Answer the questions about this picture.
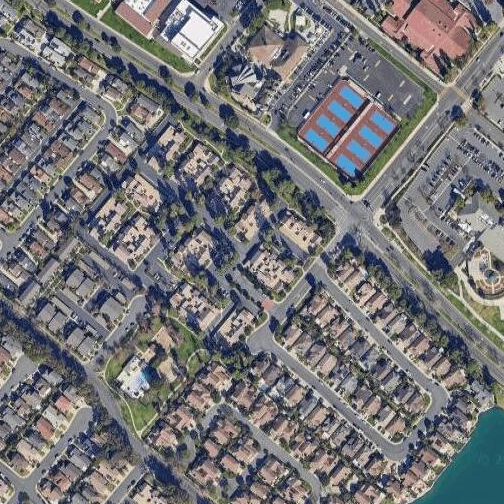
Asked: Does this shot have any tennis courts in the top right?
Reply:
Yes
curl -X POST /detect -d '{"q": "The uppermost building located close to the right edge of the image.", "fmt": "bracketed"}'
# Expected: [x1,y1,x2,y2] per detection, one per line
[383,0,480,66]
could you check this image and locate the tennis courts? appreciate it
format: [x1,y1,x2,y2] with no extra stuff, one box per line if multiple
[320,93,358,128]
[309,107,347,143]
[297,121,335,157]
[340,133,377,167]
[332,79,369,113]
[328,147,365,181]
[363,104,400,139]
[352,118,389,152]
